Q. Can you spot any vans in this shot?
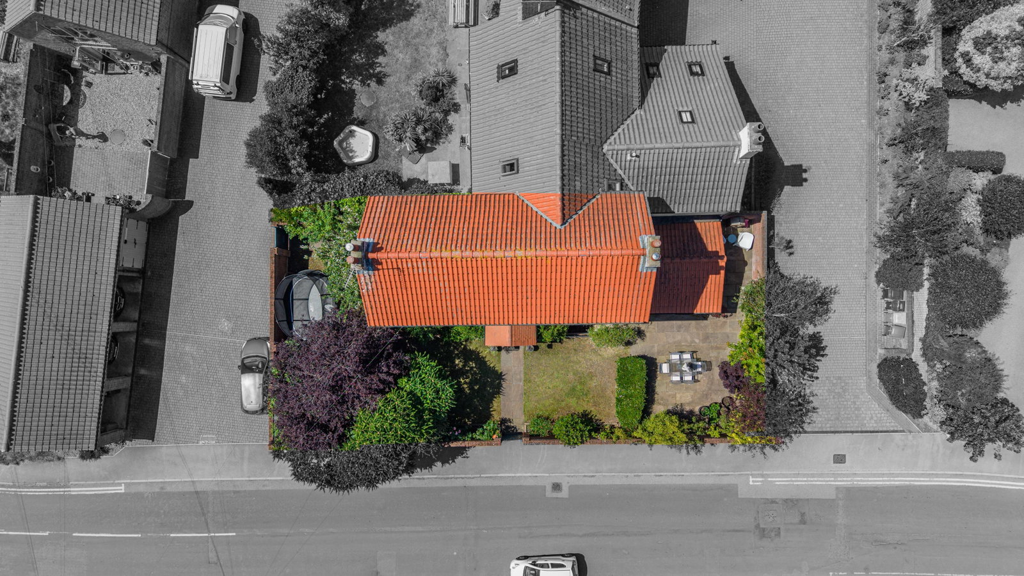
Yes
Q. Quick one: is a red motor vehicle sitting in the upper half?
No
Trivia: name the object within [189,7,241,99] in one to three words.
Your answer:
van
